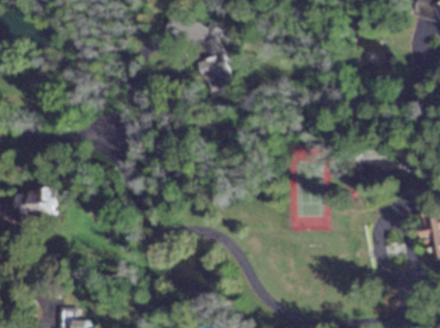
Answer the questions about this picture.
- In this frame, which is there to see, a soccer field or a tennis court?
tennis court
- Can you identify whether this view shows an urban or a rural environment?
rural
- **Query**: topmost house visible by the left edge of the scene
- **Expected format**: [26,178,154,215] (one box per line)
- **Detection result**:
[14,186,60,218]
